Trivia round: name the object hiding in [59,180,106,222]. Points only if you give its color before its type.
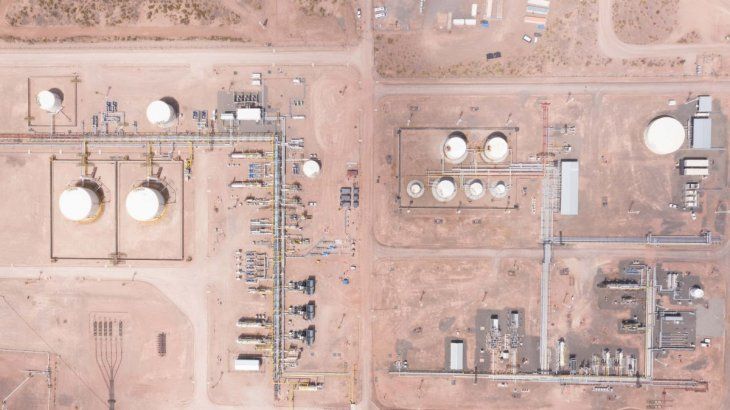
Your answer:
white storage tank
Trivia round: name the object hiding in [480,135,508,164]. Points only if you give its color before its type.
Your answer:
white storage tank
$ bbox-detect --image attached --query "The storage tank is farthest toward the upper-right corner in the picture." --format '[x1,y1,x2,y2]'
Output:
[642,116,687,156]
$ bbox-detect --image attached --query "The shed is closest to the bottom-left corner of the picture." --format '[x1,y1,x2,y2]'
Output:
[235,357,260,371]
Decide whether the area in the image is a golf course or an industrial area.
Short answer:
industrial area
